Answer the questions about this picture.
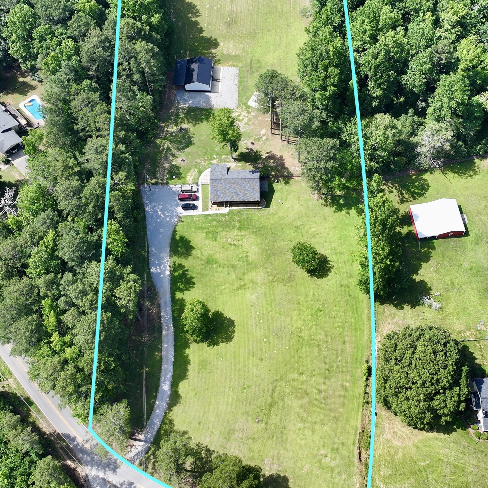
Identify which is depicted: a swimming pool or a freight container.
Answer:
swimming pool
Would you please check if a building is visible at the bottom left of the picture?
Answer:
No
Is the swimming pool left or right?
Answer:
left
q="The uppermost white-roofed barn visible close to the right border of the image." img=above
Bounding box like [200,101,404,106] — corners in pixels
[408,199,466,245]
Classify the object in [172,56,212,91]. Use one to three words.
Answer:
building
